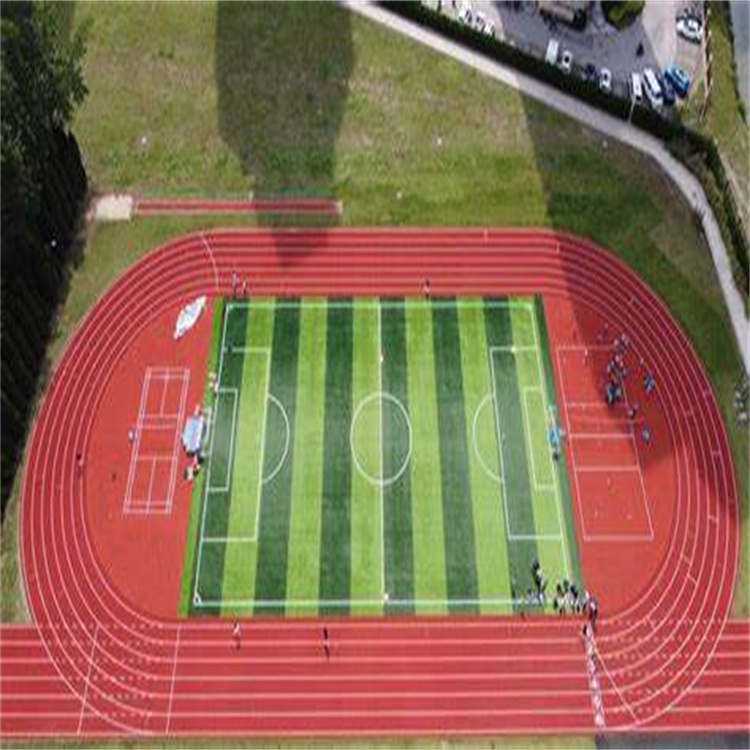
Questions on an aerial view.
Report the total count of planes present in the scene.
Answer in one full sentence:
The count of planes is 0.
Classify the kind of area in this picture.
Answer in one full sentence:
This image shows a sports ground.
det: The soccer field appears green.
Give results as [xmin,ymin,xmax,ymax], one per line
[176,295,584,615]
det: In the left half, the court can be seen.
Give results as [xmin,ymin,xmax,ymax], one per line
[122,366,191,515]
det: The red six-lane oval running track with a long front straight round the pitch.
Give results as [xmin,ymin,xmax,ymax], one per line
[0,226,750,741]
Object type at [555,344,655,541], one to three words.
sports court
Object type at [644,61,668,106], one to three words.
bus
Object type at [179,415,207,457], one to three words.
gazebo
